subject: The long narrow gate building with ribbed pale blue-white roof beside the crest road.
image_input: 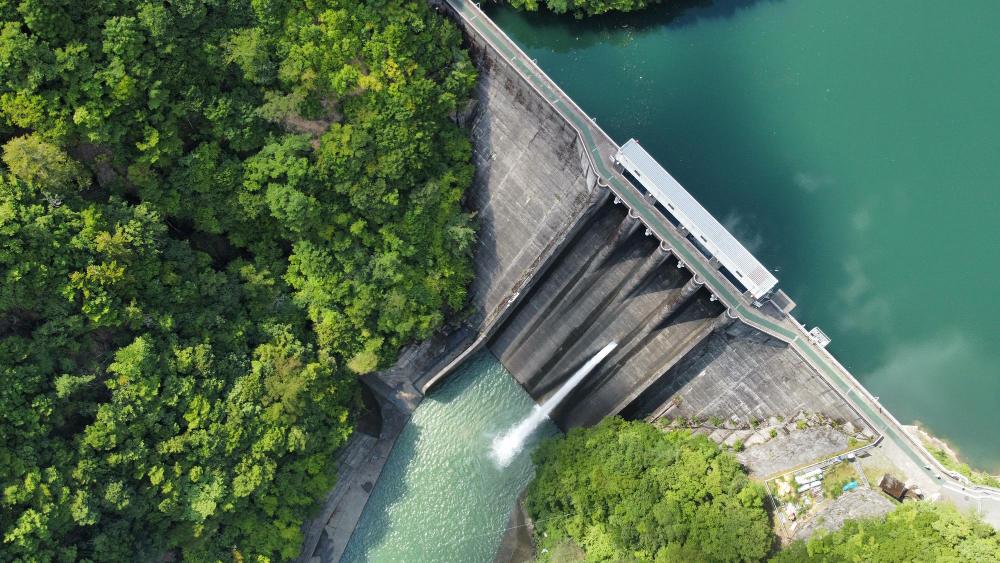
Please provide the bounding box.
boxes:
[614,137,781,297]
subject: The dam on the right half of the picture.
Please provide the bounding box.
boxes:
[443,0,1000,492]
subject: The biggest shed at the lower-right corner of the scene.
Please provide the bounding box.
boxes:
[875,473,909,503]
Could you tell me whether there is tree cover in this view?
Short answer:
Yes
